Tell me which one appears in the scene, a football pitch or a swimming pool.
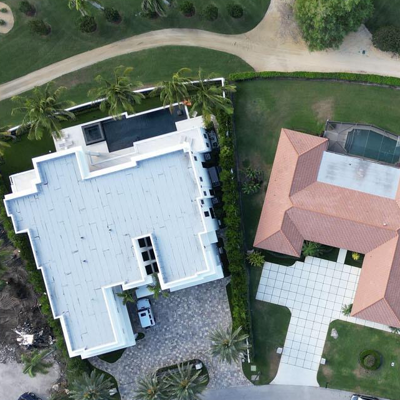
swimming pool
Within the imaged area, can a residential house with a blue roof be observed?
No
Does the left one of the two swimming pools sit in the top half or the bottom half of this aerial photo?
top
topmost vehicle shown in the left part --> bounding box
[137,297,156,329]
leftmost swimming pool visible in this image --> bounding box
[79,105,187,152]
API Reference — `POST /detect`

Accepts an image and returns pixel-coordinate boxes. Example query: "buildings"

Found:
[4,127,230,358]
[252,128,400,328]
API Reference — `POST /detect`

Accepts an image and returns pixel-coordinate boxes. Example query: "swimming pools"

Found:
[343,127,400,165]
[79,105,187,152]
